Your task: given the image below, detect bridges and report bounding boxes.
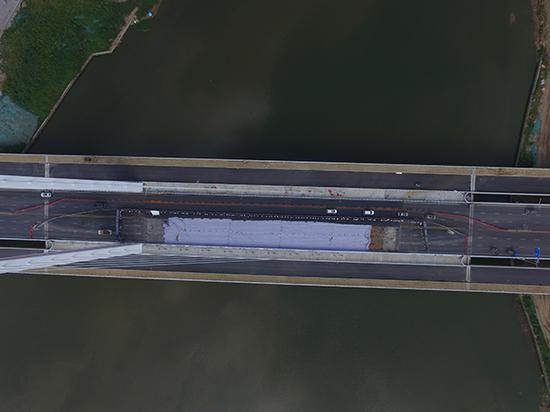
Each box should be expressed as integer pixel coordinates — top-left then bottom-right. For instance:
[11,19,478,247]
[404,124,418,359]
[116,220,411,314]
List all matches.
[0,153,550,294]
